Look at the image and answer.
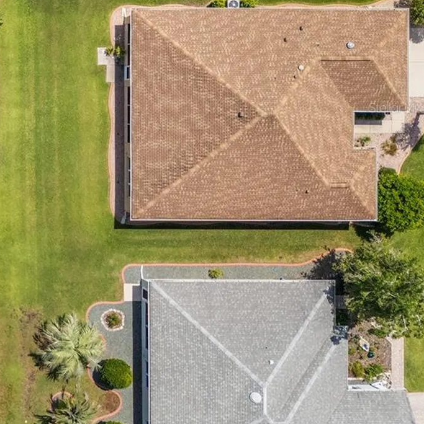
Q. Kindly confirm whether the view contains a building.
Yes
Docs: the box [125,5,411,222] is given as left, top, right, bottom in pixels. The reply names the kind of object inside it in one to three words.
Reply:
house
